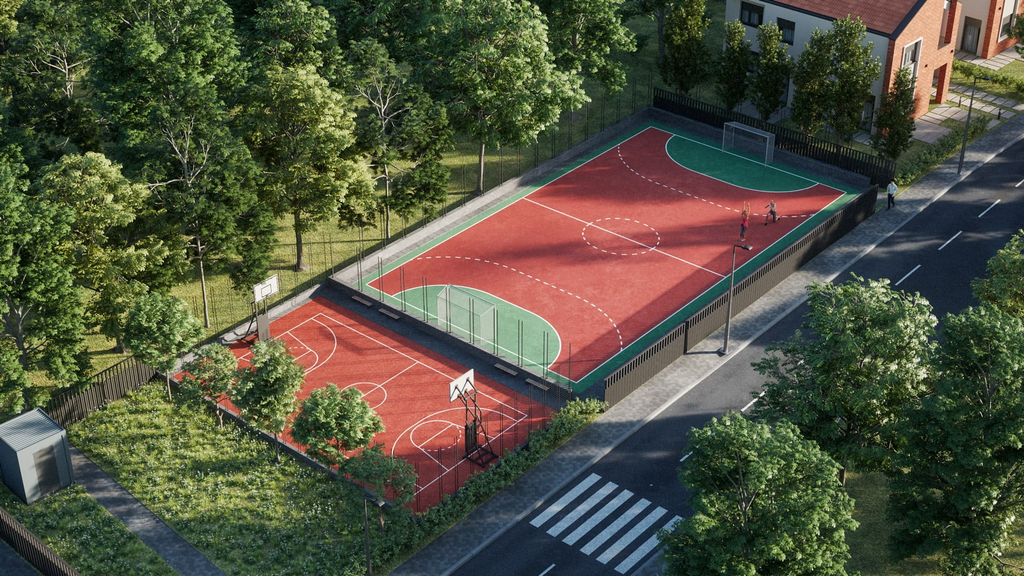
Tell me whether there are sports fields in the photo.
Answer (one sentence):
Yes, there's a sports field here.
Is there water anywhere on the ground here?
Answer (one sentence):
No, no water is visible.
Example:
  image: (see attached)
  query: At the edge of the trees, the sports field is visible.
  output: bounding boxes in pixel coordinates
[366,127,845,383]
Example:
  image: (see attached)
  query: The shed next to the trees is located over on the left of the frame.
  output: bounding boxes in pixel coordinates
[0,408,71,504]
